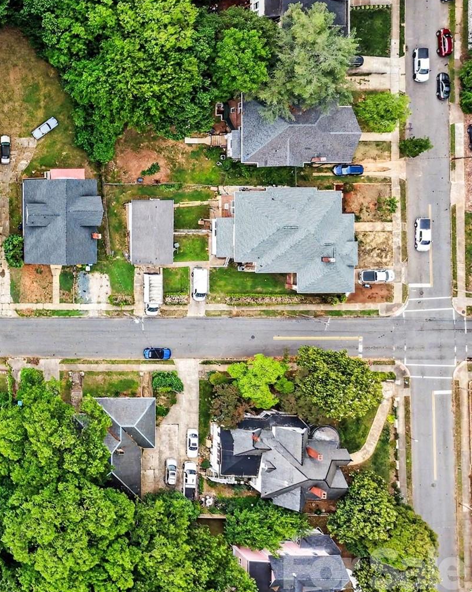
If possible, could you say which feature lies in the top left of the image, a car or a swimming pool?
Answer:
car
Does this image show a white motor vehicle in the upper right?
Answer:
Yes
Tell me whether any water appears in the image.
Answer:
No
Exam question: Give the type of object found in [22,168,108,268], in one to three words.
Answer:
house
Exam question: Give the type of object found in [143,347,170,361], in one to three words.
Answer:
car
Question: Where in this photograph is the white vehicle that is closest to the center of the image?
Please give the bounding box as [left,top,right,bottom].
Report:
[192,268,207,300]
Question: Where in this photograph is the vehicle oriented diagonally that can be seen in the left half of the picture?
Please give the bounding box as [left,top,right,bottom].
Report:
[31,117,59,140]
